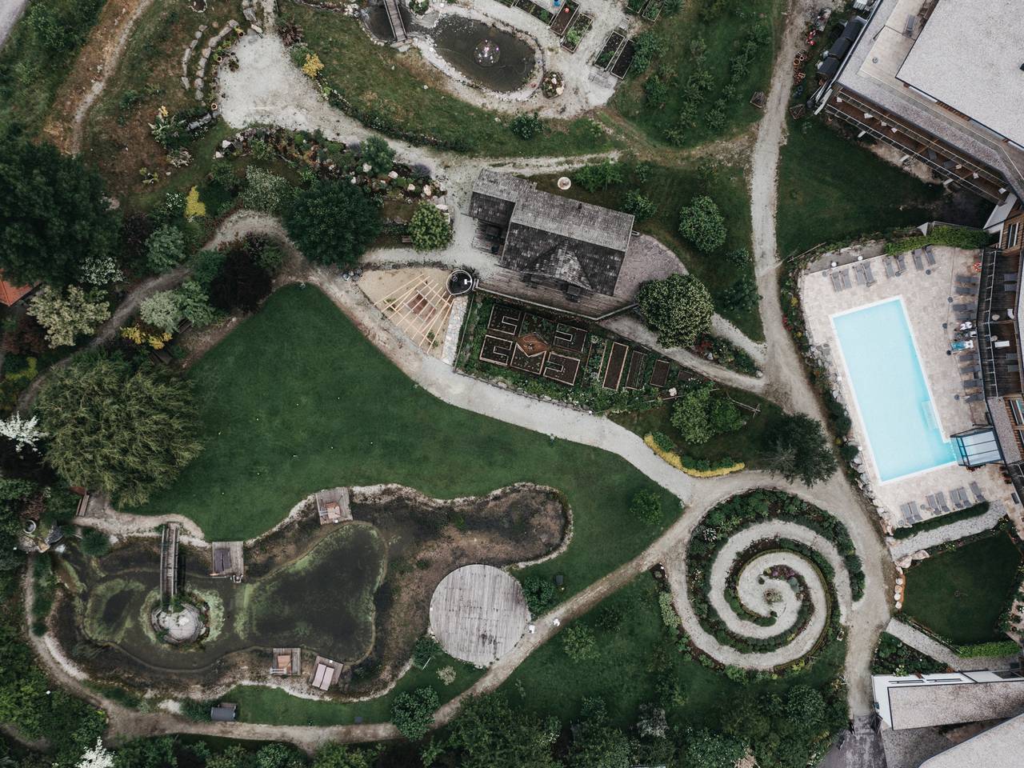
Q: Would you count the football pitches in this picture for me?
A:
none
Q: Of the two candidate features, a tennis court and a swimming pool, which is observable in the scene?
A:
swimming pool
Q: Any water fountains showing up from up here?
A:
Yes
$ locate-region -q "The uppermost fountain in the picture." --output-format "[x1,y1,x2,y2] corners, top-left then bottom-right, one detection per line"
[473,40,500,67]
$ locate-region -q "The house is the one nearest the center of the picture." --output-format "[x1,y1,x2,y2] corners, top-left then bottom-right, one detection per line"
[468,168,640,297]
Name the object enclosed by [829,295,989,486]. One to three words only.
swimming pool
